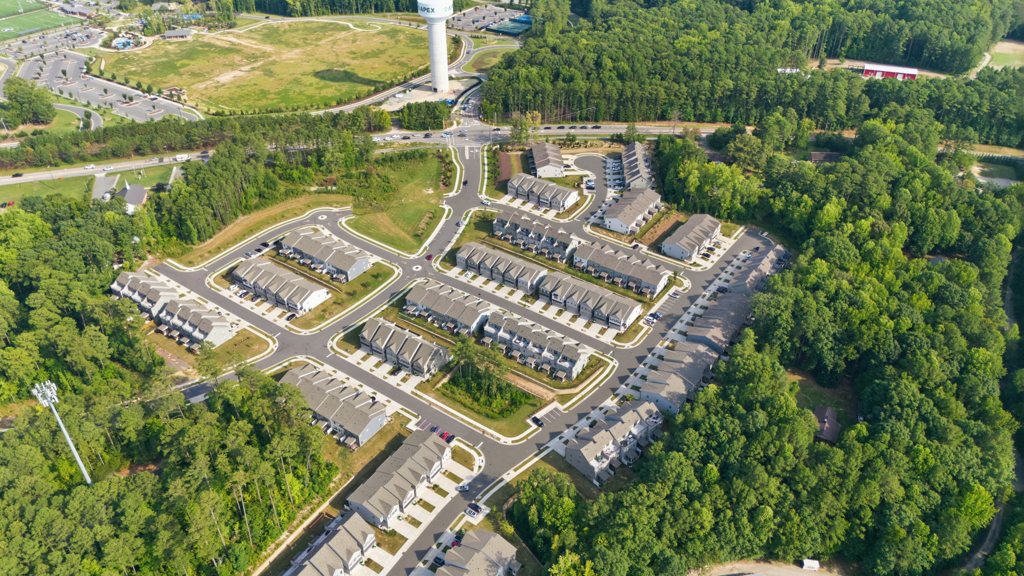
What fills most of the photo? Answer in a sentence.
For the most part, this view shows trees.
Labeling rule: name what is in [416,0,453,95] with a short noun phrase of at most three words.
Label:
water tower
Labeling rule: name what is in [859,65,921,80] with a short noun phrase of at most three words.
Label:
barn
